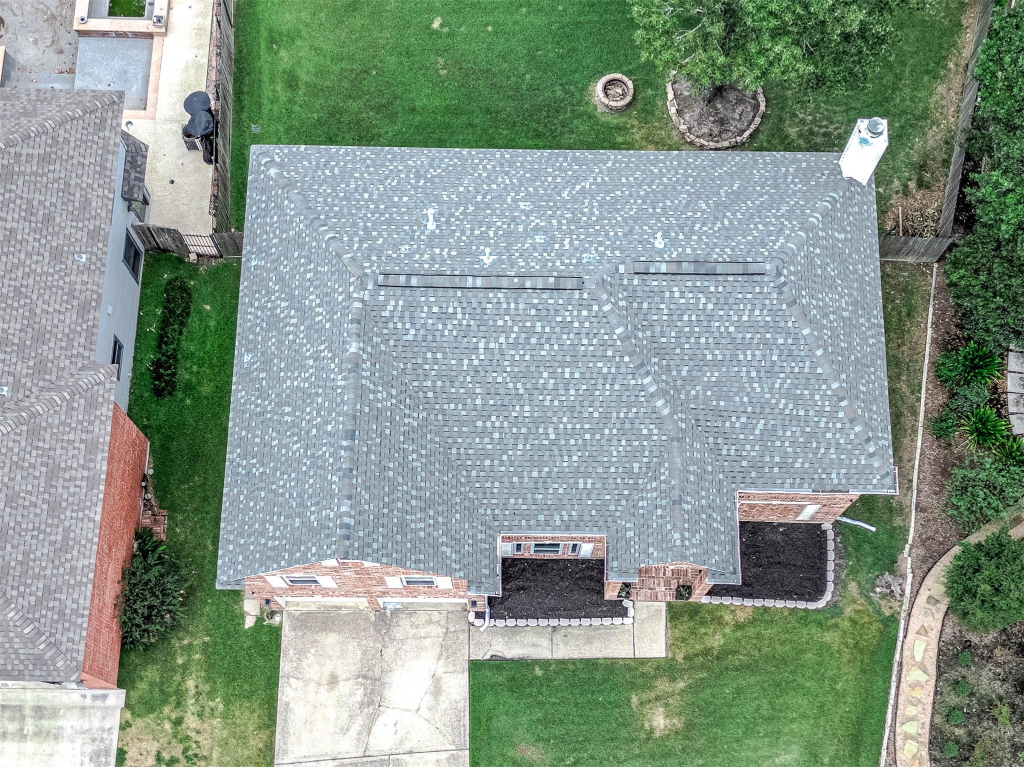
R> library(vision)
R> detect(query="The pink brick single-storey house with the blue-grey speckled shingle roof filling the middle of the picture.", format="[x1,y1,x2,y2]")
[216,113,897,631]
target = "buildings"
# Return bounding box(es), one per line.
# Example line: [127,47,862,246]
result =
[216,113,897,631]
[0,87,166,686]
